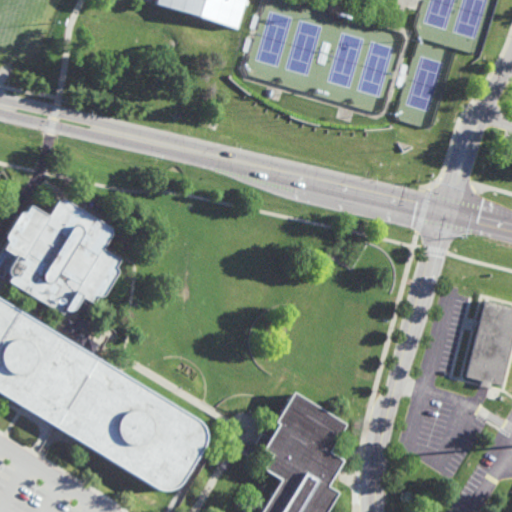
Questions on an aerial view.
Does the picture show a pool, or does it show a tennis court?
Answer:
tennis court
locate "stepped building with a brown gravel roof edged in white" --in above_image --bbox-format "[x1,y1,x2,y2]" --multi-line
[263,392,347,512]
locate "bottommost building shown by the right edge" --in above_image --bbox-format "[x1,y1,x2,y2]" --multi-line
[466,302,512,389]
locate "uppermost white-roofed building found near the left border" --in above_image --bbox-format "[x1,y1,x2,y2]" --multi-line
[6,201,122,312]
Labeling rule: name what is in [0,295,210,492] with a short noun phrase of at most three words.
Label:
building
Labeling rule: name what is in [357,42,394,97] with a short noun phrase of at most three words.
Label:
tennis court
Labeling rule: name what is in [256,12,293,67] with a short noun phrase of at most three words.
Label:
tennis court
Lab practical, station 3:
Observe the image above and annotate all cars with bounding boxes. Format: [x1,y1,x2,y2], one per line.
[20,486,30,494]
[486,454,496,462]
[430,412,440,418]
[431,401,442,407]
[19,493,28,500]
[296,182,306,188]
[483,460,492,467]
[224,152,234,157]
[30,500,40,508]
[256,174,266,179]
[58,503,68,511]
[33,494,43,502]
